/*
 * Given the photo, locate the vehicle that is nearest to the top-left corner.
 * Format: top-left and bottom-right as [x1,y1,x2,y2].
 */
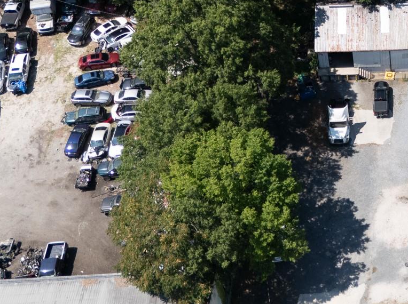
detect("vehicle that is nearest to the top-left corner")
[1,0,27,28]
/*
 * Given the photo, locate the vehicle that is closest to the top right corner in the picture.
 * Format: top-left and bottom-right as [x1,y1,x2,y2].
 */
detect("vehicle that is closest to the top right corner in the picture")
[373,79,392,116]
